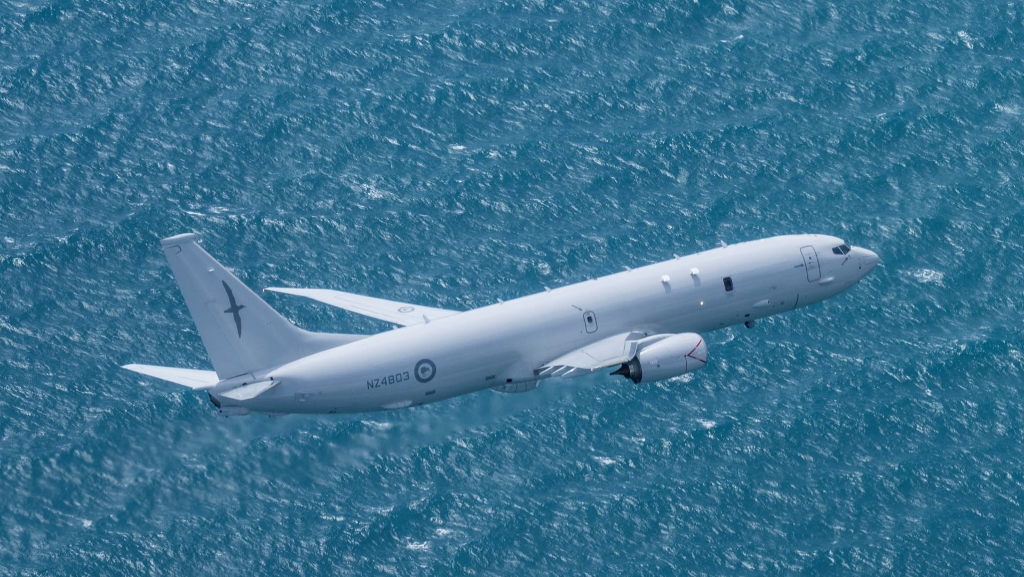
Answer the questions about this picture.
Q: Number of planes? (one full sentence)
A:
Only 1 plane is visible.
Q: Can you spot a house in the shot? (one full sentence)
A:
No, no house can be seen from above.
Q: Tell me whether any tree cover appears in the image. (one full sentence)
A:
No, no tree cover is visible.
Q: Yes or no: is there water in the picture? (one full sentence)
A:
Yes, there is water in the image.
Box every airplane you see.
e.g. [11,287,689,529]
[122,233,878,418]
